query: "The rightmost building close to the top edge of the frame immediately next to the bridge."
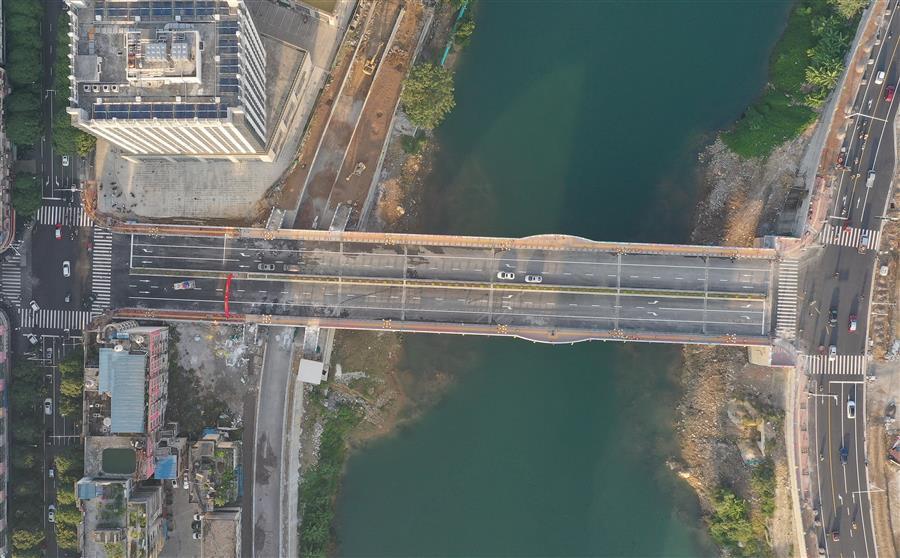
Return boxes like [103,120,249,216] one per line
[71,0,308,168]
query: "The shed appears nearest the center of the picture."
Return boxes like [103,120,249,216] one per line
[298,359,329,384]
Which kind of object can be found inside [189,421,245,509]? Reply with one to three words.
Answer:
house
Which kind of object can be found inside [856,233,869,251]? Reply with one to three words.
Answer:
vehicle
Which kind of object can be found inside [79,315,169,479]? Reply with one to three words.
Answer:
building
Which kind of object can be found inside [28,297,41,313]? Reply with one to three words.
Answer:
vehicle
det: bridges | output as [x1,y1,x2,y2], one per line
[107,221,779,347]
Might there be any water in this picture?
Yes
